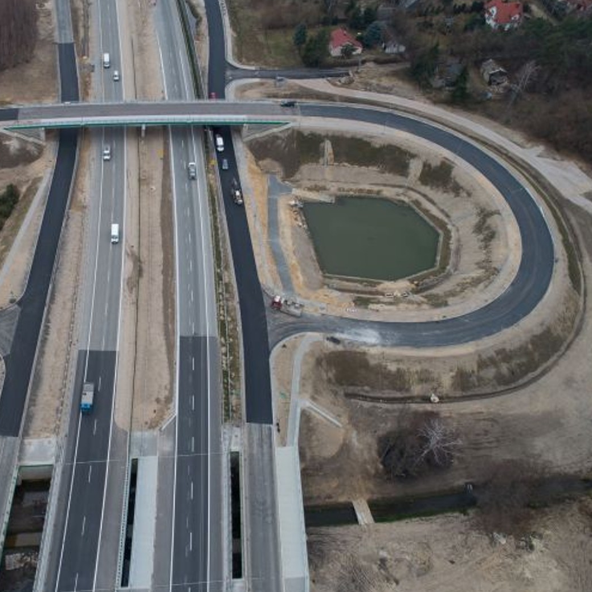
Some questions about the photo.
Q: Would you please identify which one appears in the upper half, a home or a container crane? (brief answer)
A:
home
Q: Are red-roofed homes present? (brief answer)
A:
Yes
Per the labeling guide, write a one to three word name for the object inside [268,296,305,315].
vehicle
